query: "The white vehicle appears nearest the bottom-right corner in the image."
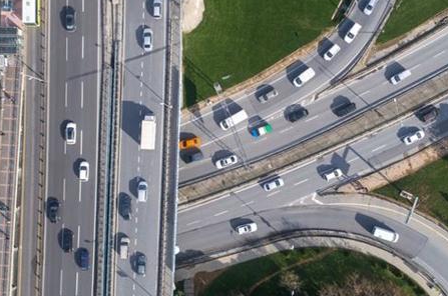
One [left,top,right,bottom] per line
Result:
[374,226,398,241]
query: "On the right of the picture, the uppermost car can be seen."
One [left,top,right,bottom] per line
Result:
[362,0,378,16]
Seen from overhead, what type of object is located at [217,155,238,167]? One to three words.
vehicle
